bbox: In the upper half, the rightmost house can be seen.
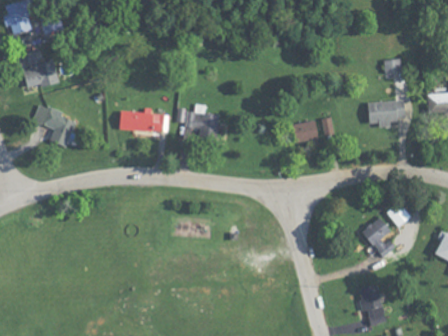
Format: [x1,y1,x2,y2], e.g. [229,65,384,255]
[428,88,448,118]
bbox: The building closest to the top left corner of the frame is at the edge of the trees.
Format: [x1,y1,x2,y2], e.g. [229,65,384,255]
[3,0,32,35]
